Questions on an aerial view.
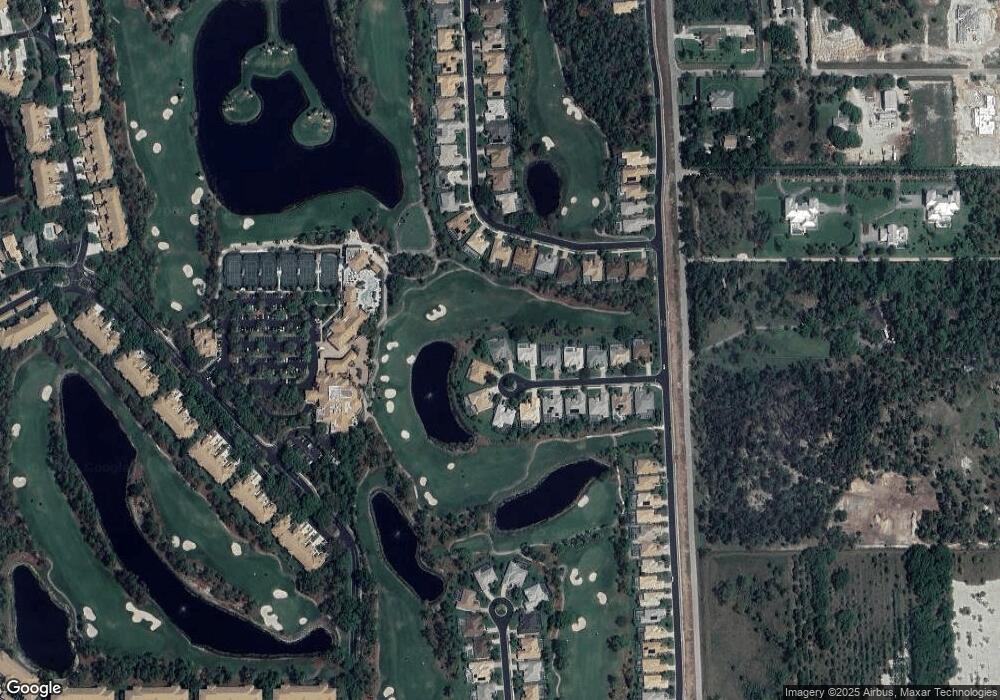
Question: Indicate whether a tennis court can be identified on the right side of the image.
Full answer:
No, no tennis court is visible on the right side of the image.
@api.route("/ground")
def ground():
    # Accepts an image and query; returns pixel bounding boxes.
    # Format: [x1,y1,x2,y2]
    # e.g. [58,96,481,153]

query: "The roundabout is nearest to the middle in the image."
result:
[497,372,536,397]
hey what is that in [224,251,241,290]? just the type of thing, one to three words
tennis court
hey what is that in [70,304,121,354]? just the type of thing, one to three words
building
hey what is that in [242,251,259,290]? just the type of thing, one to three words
tennis court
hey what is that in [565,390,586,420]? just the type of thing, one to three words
house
